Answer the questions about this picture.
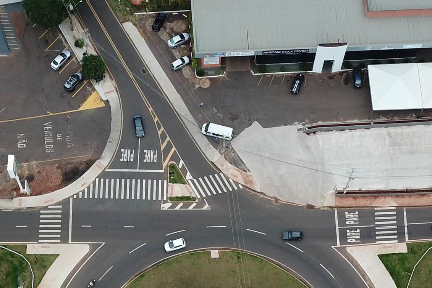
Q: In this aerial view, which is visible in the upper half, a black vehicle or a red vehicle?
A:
black vehicle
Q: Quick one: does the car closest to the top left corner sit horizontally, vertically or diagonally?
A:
diagonally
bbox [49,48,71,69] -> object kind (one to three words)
car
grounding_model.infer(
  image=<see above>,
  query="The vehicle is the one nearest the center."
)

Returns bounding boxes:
[204,121,233,138]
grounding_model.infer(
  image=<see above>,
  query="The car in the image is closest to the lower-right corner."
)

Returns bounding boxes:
[280,229,304,241]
